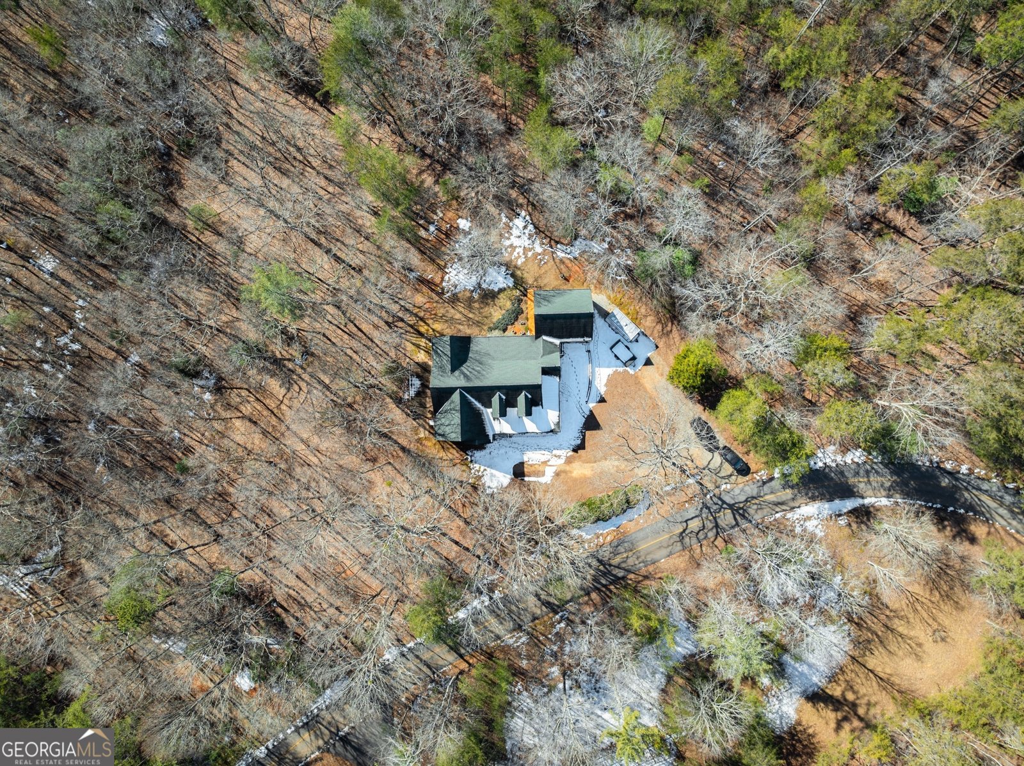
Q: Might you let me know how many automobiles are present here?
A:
2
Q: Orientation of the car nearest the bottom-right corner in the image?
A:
at an angle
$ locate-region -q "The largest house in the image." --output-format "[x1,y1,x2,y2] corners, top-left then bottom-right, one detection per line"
[430,335,560,442]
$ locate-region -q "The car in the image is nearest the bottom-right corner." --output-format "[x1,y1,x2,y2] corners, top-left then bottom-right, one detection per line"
[721,445,752,479]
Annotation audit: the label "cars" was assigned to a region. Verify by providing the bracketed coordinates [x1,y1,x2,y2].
[721,445,752,479]
[692,418,721,454]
